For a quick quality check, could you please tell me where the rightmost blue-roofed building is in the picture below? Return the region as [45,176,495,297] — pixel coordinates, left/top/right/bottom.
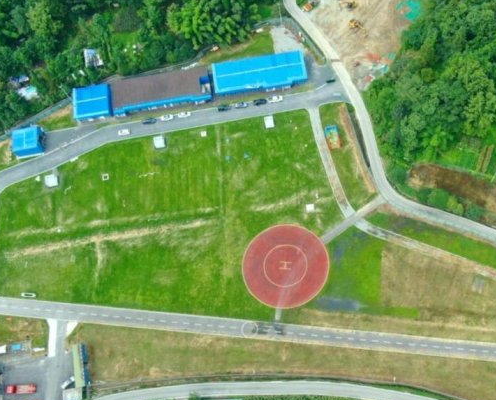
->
[211,50,305,96]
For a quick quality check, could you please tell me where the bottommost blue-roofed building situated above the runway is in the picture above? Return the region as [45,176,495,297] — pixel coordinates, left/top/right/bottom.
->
[10,126,48,159]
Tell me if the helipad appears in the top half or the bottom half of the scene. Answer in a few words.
bottom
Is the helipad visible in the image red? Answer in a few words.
Yes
